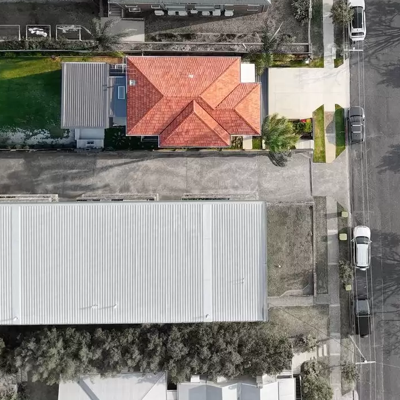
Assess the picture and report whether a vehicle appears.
Yes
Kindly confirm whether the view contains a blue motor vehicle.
No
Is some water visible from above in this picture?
No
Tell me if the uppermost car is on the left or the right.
right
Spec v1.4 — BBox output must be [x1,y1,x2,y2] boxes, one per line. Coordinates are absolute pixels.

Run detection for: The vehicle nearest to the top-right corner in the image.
[348,0,368,42]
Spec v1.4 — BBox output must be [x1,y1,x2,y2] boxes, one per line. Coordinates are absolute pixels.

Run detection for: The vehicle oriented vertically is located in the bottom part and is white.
[352,223,373,272]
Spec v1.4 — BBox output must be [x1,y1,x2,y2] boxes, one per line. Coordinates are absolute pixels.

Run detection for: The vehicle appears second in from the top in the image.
[346,103,367,146]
